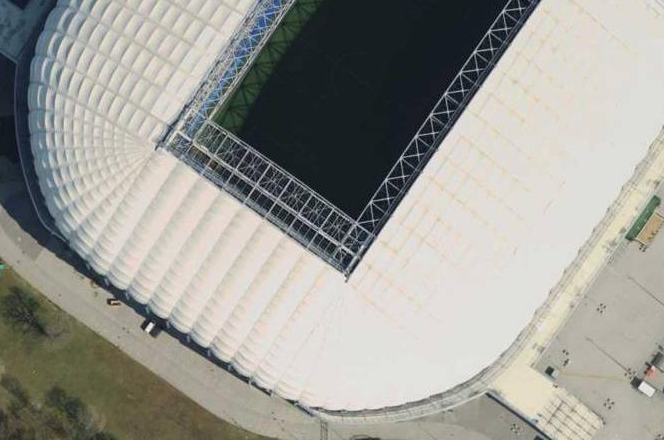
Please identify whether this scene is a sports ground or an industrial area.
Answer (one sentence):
It's a sports ground.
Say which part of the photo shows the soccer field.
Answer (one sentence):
You can find the soccer field in the top area of the picture.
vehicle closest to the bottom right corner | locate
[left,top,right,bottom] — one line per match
[639,381,657,397]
